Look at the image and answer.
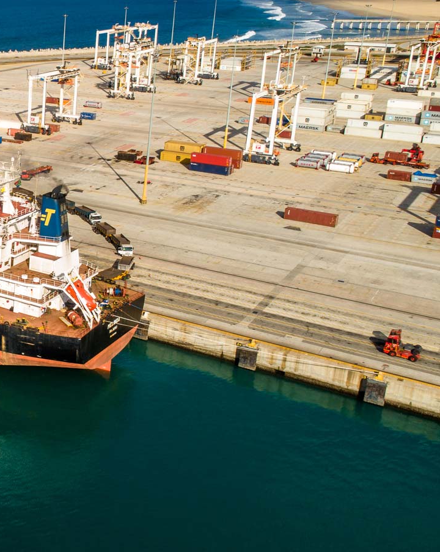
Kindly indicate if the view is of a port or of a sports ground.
port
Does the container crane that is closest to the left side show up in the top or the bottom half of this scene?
top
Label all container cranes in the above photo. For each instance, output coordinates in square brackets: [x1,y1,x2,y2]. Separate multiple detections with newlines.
[91,27,127,69]
[125,22,158,63]
[105,36,149,86]
[399,37,440,90]
[24,62,82,134]
[245,80,309,163]
[175,33,217,82]
[259,44,302,97]
[108,45,155,97]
